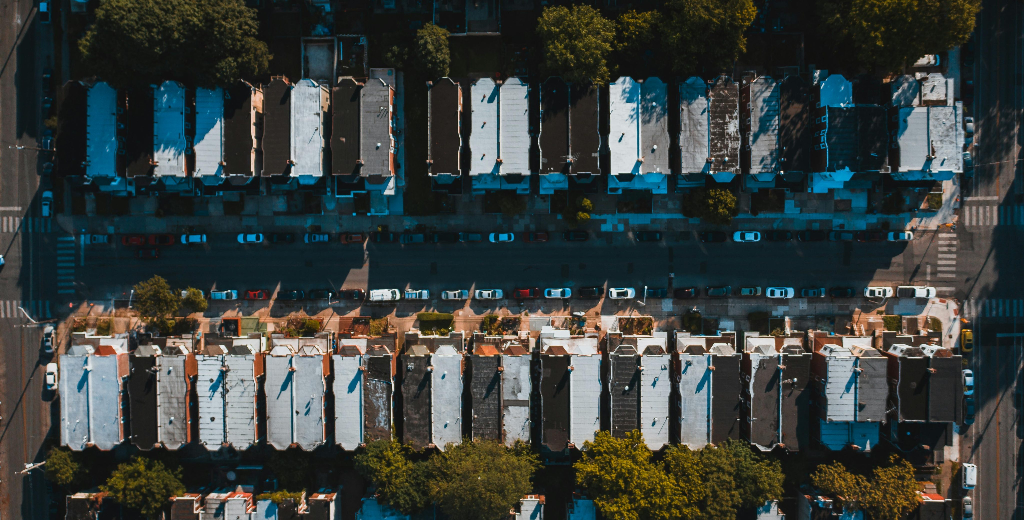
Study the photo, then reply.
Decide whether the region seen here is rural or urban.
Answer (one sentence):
It looks urban.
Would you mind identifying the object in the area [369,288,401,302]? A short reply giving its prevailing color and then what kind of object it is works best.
white vehicle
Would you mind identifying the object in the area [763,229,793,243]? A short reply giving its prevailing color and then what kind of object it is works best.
black car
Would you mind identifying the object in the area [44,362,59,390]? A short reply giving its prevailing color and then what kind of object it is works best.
white car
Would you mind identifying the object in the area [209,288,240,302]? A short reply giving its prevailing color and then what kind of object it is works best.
blue vehicle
